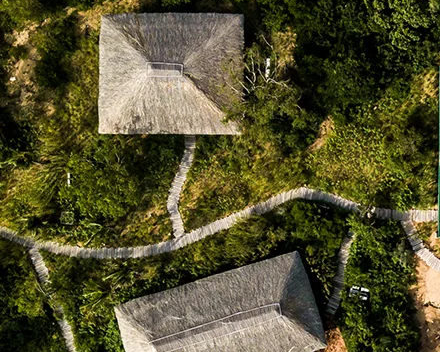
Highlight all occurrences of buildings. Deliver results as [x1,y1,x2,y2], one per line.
[114,252,328,352]
[98,13,244,135]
